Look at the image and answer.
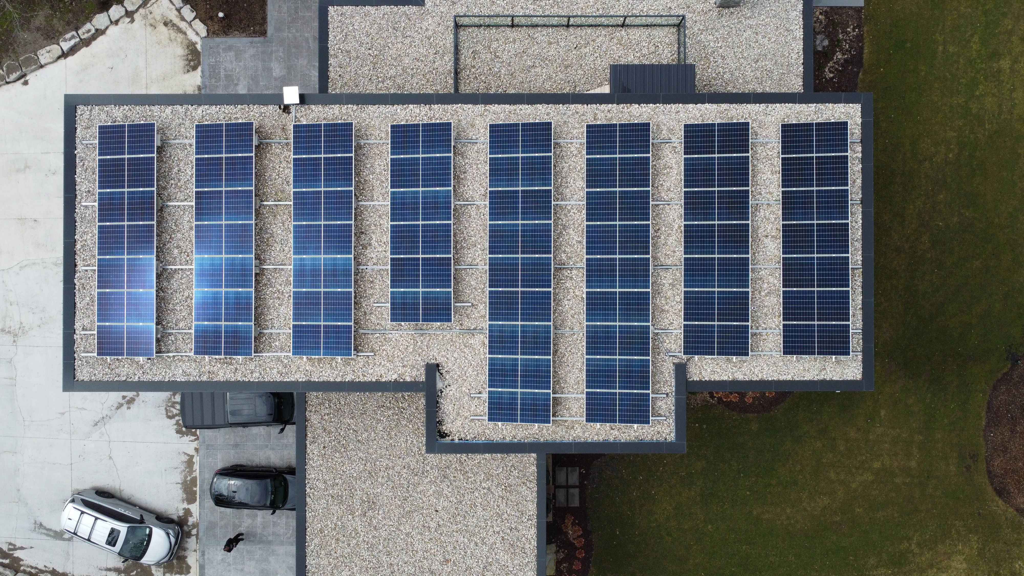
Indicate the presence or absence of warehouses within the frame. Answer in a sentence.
No, the picture doesn't show any warehouse.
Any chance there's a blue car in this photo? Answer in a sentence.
No, the picture doesn't show any blue car.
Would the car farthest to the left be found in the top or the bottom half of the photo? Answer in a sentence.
The bottom half of the photo is where the car farthest to the left is.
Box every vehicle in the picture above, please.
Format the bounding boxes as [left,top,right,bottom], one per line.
[178,392,296,435]
[209,463,296,520]
[60,488,184,567]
